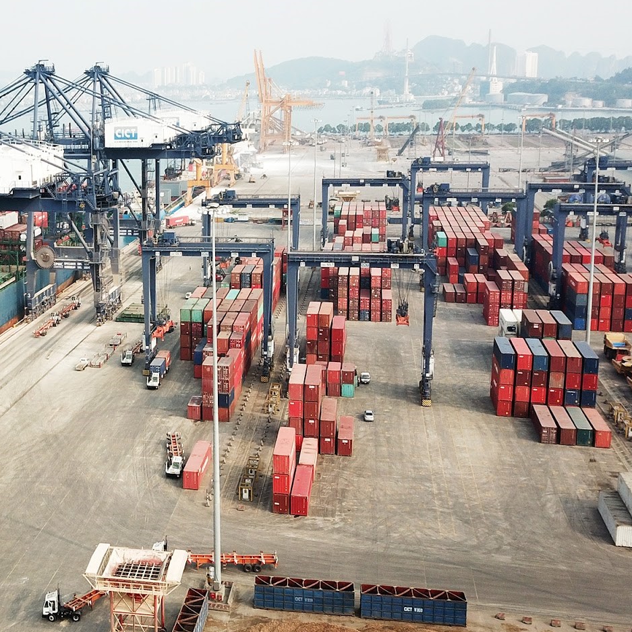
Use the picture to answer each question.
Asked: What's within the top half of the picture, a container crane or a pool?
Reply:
container crane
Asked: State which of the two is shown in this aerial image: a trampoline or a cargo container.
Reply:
cargo container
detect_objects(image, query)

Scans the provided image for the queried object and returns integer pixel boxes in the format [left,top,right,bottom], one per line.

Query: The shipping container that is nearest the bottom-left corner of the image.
[183,443,212,491]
